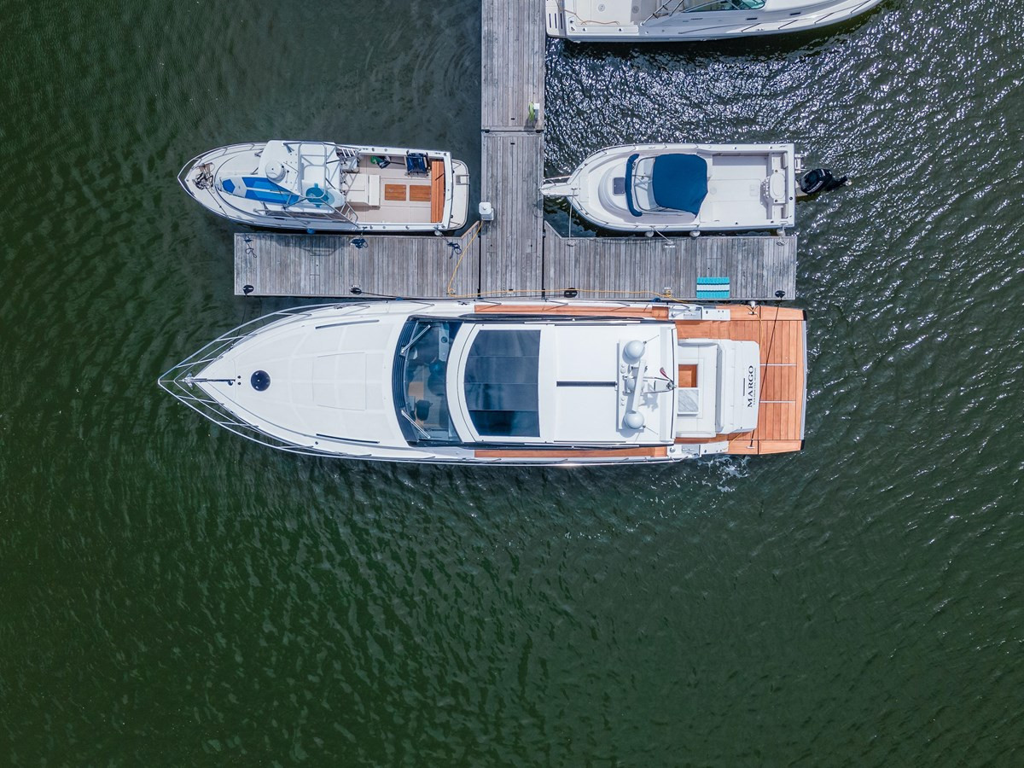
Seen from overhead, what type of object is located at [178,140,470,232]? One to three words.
boat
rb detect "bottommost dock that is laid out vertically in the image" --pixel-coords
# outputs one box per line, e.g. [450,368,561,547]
[482,132,543,299]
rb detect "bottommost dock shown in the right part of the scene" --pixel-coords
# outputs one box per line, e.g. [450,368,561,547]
[543,222,797,300]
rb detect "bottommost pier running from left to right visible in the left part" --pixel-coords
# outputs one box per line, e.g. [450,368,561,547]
[235,221,482,298]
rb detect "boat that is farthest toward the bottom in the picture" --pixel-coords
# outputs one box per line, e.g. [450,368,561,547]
[159,299,806,462]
